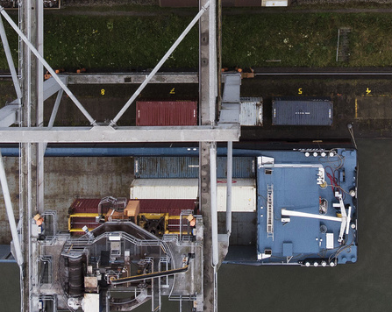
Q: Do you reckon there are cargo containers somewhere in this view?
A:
Yes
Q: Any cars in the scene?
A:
No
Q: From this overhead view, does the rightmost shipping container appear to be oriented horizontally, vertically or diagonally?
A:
horizontally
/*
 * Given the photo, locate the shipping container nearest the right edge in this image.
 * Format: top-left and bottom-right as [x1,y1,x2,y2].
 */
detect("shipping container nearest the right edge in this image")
[272,96,333,125]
